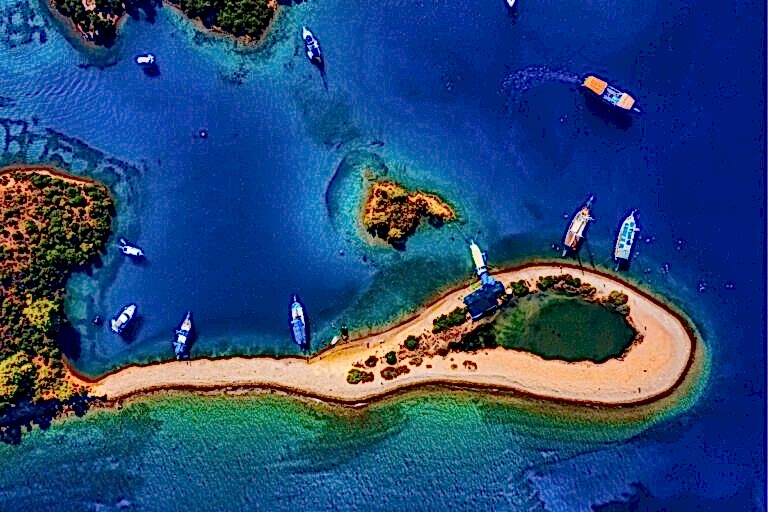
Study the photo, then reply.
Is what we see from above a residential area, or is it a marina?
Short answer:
marina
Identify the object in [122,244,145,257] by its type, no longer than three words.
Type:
boat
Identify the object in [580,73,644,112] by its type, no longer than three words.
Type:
boat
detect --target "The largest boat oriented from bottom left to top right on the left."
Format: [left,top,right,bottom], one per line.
[109,306,136,335]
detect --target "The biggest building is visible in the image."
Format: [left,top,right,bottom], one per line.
[460,280,503,321]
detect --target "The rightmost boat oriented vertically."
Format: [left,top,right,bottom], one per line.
[615,209,644,268]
